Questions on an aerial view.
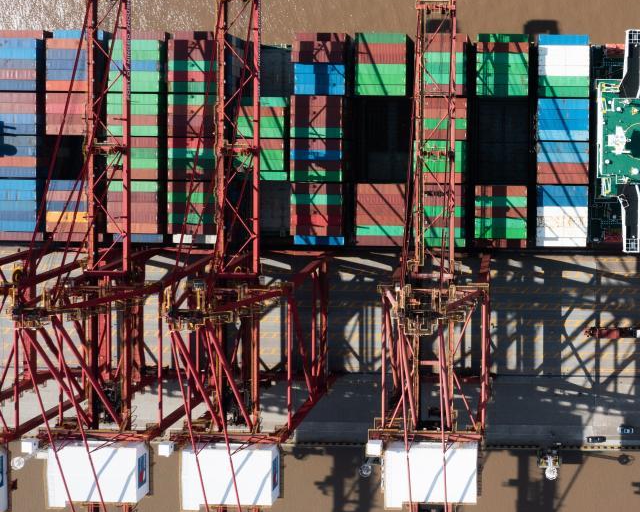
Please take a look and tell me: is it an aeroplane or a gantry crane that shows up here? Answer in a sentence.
It is a gantry crane that can be seen here.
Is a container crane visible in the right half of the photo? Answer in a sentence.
Yes, there is a container crane in the right half of the photo.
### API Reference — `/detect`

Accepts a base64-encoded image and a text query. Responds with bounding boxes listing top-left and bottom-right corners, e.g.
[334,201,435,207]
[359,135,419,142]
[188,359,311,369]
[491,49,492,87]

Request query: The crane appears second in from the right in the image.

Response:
[156,0,345,512]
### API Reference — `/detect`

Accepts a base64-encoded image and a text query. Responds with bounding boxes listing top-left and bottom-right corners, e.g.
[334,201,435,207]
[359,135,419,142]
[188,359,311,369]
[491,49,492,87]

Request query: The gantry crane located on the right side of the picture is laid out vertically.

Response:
[358,0,498,512]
